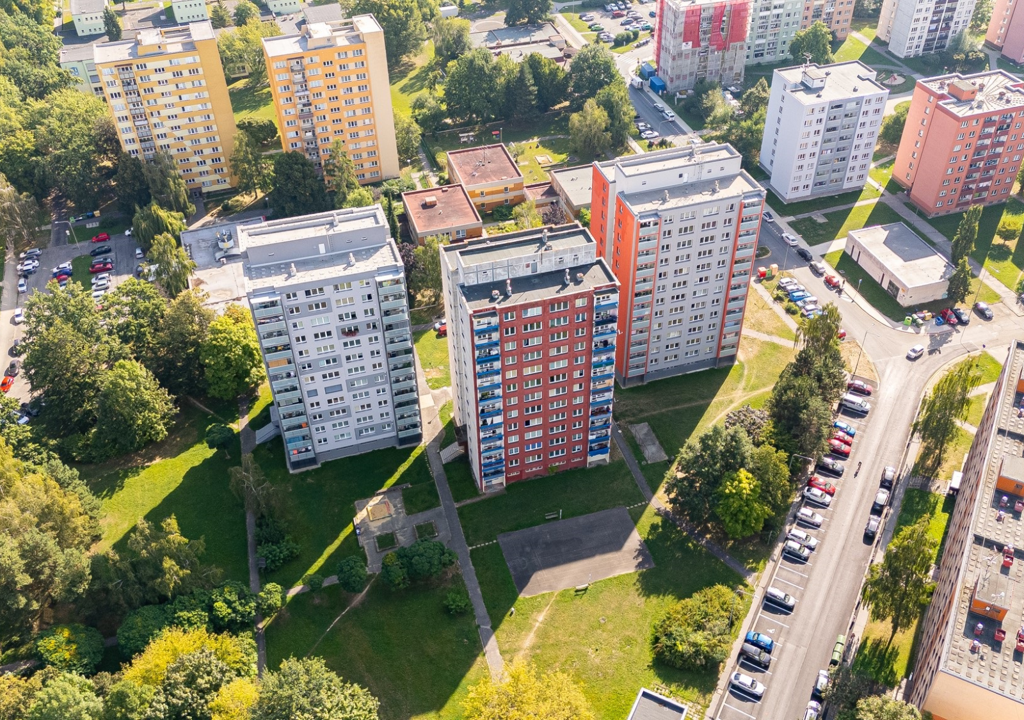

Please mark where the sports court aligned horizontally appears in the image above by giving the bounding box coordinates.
[497,506,655,597]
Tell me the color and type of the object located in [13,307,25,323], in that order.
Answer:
white vehicle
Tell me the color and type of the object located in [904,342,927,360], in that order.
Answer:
white car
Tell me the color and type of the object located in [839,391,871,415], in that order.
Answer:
white vehicle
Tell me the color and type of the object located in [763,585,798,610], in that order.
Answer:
white car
